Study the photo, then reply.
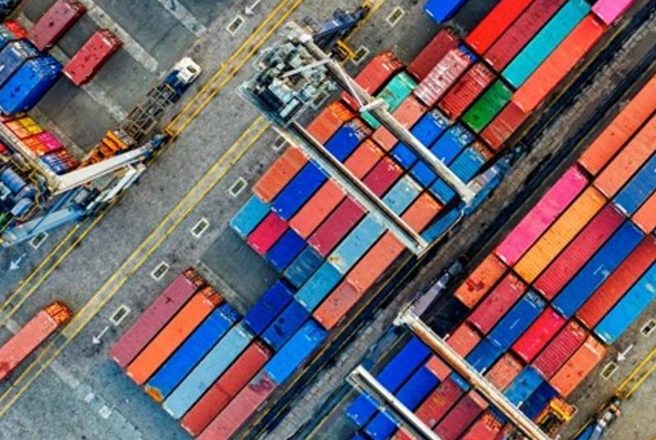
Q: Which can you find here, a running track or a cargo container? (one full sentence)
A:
The image shows a cargo container.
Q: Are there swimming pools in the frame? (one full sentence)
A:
No, there is no swimming pool in the image.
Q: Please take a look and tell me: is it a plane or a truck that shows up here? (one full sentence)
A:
The image shows a truck.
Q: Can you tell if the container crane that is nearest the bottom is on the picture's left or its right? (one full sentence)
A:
You can find the container crane that is nearest the bottom on the right side of the picture.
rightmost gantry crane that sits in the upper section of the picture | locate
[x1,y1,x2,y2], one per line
[235,0,530,260]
